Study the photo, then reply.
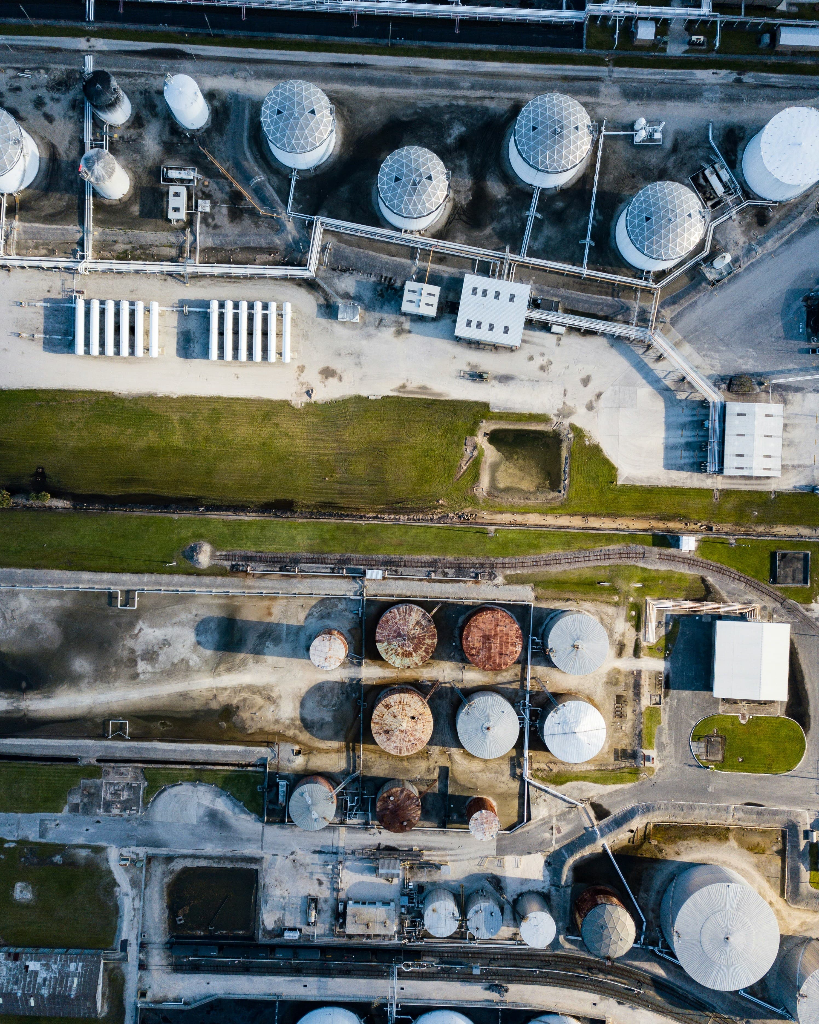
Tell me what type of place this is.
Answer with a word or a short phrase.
industrial area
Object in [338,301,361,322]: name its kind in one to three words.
building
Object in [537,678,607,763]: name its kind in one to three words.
storage tank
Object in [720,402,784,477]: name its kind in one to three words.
shed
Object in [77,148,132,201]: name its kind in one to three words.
storage tank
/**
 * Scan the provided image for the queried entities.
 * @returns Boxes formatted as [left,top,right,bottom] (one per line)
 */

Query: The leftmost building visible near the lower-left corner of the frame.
[0,942,107,1017]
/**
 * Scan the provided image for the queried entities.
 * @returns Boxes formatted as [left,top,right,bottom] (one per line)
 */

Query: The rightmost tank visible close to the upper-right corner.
[741,106,819,204]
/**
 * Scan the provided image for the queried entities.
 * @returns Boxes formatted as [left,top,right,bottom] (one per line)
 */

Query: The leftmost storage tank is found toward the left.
[0,108,42,195]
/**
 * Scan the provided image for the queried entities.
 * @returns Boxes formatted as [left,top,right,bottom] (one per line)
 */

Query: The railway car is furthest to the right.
[375,949,424,964]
